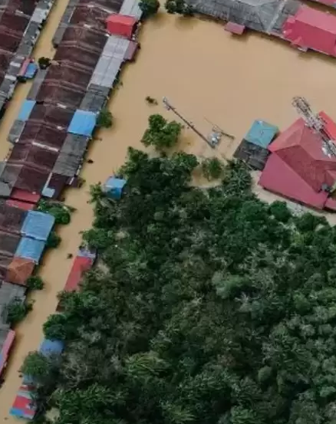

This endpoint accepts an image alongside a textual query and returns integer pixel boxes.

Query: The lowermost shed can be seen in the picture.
[10,385,40,420]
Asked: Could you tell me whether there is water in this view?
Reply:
Yes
